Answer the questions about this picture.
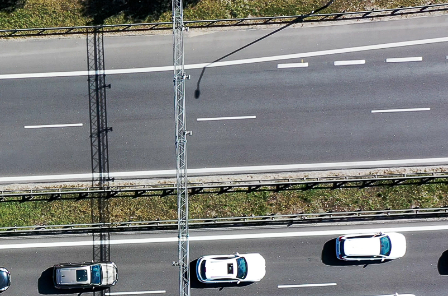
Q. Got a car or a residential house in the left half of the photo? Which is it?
car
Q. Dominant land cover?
paved ground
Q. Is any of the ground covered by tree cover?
No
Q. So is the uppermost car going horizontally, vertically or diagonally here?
horizontally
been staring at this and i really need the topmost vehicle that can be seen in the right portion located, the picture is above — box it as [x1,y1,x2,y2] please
[335,229,406,262]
